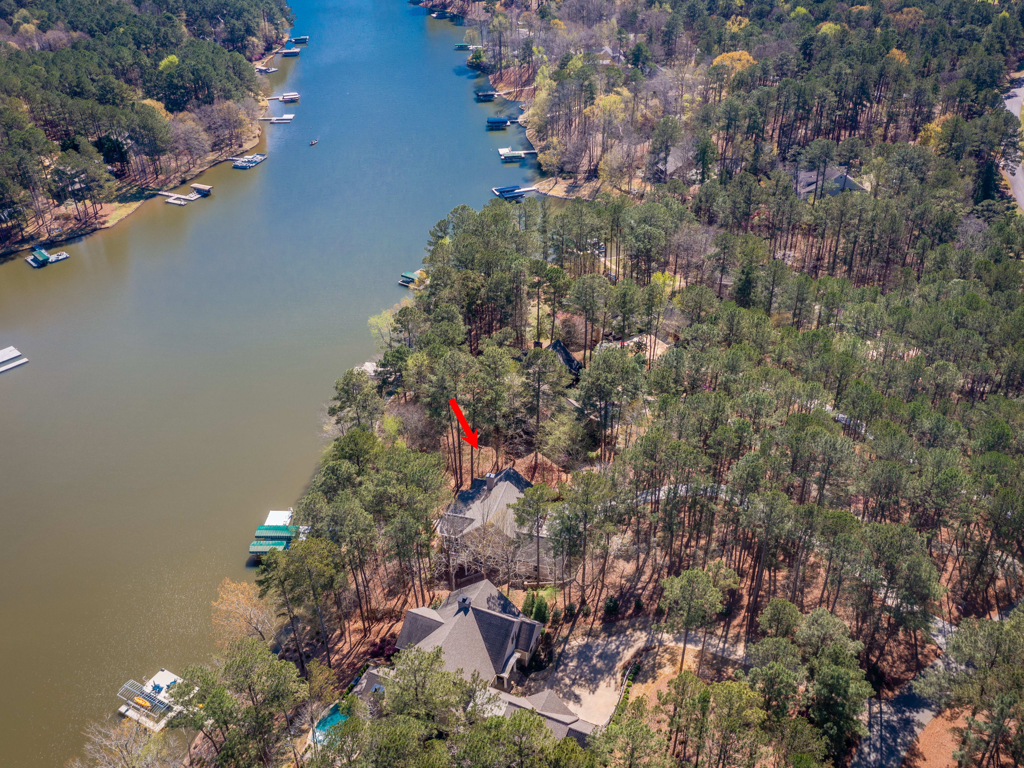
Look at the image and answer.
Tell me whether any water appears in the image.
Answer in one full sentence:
Yes, there is water in the image.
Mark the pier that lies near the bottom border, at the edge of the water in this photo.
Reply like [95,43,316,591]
[117,670,210,731]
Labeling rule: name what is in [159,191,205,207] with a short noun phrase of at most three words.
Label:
pier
